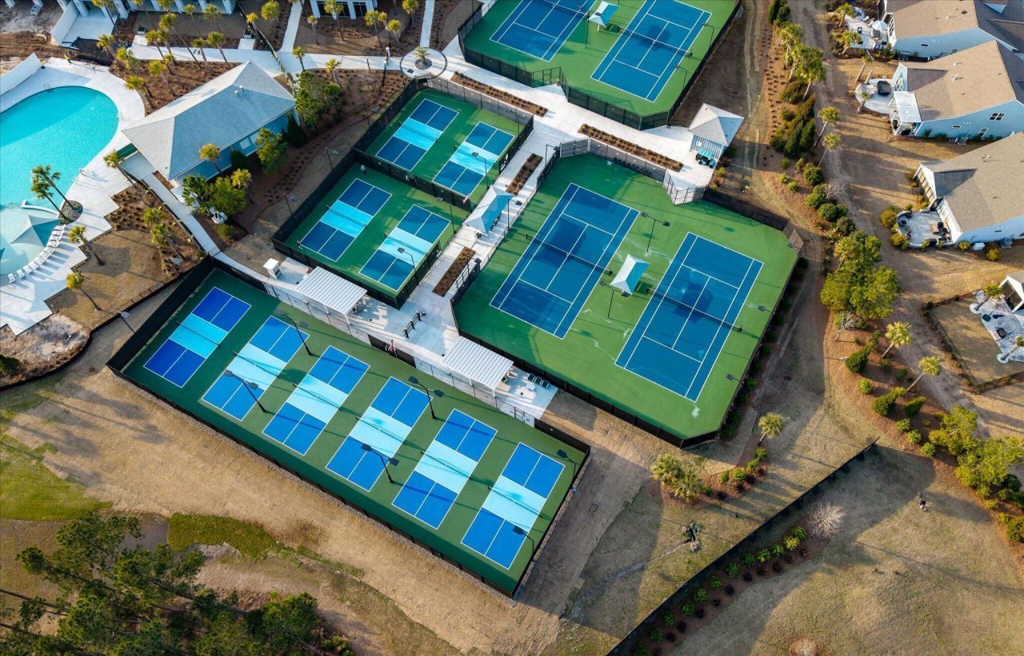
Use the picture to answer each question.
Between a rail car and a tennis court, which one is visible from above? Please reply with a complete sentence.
Looking from above, you can make out a tennis court.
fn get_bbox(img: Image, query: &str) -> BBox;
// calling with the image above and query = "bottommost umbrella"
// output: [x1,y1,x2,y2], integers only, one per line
[984,308,1002,322]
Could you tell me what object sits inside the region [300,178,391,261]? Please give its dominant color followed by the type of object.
blue sports court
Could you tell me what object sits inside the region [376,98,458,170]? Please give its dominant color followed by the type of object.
blue sports court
